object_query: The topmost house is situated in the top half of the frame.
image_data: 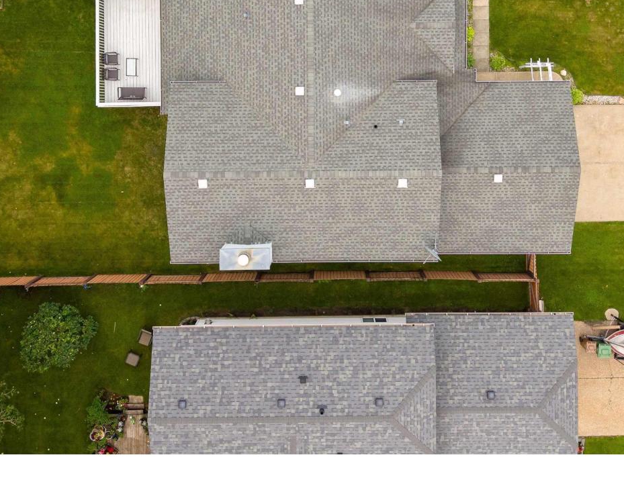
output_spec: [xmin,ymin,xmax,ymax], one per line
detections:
[158,0,580,268]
